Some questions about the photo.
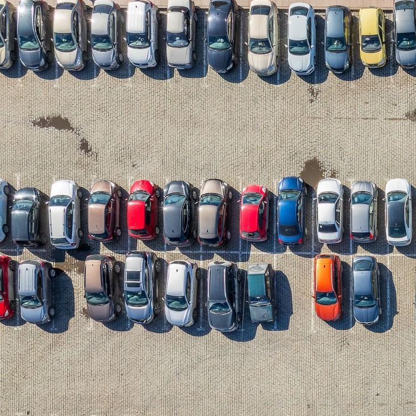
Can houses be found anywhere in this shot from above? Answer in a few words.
No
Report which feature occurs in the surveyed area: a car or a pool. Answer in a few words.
car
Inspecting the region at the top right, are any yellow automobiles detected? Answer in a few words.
Yes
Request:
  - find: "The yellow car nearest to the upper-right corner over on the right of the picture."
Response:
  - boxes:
[356,7,388,68]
